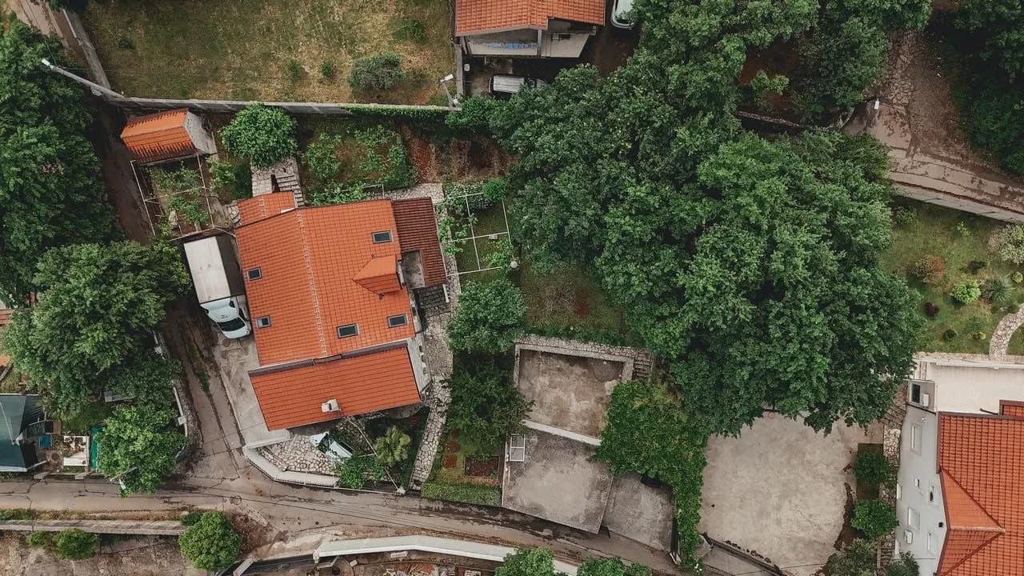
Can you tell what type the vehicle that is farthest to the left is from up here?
truck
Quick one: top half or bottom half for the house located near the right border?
bottom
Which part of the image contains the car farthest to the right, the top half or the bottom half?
top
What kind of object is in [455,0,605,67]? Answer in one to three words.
house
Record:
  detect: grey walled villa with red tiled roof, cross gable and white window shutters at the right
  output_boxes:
[894,361,1024,576]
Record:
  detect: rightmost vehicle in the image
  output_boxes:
[608,0,641,35]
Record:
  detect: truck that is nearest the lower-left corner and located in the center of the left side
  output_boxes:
[183,234,252,345]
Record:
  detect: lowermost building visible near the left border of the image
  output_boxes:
[0,392,55,473]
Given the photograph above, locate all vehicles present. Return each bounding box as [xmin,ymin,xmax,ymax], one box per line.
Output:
[487,66,551,98]
[608,0,641,35]
[183,234,252,345]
